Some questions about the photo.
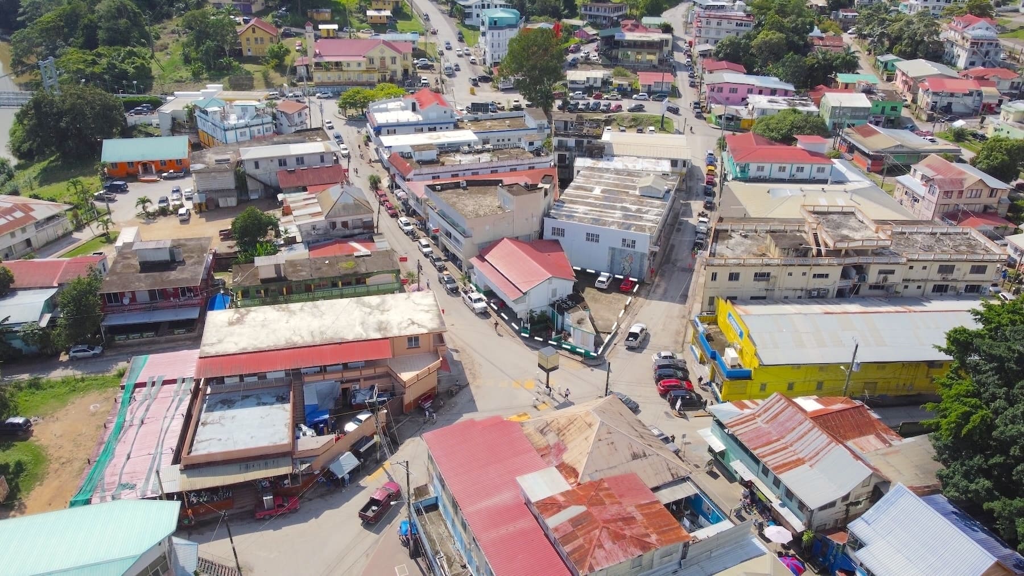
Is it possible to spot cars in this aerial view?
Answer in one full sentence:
Yes, the photo shows a car.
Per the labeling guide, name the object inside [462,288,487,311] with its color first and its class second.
white truck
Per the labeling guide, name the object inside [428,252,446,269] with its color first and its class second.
gray car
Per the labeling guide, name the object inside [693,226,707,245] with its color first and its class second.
gray vehicle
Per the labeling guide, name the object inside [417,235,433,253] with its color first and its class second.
white vehicle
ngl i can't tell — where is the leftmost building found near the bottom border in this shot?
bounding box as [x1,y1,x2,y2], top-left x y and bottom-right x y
[0,500,181,576]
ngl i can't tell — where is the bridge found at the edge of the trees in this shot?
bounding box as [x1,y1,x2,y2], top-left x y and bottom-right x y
[0,60,166,116]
